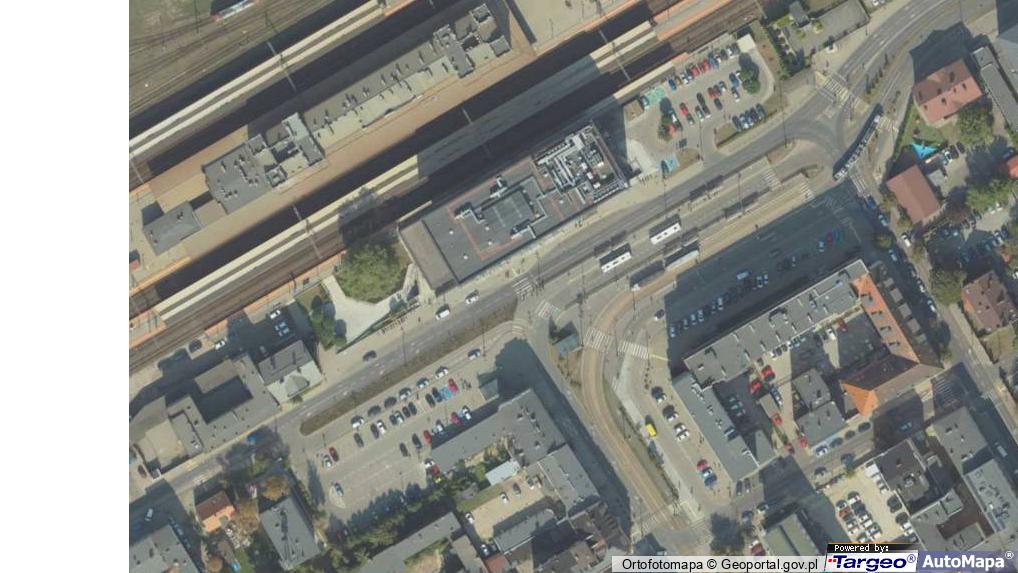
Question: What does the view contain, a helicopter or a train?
train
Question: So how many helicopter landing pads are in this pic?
zero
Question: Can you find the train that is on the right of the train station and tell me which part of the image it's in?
top right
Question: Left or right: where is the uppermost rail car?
left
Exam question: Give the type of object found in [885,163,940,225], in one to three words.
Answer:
house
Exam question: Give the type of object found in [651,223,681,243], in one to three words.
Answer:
vehicle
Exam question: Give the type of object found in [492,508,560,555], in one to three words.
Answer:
shed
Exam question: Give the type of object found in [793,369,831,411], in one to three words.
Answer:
building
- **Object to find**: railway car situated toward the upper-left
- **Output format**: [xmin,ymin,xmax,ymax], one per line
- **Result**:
[214,0,259,22]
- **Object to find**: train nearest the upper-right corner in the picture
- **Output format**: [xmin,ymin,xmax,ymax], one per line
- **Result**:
[836,116,882,175]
